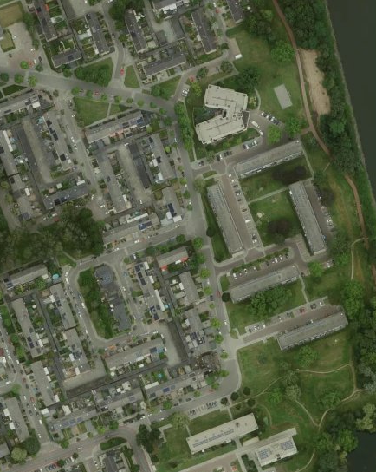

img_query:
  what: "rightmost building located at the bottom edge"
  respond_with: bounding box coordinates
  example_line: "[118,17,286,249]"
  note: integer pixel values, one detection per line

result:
[251,429,297,467]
